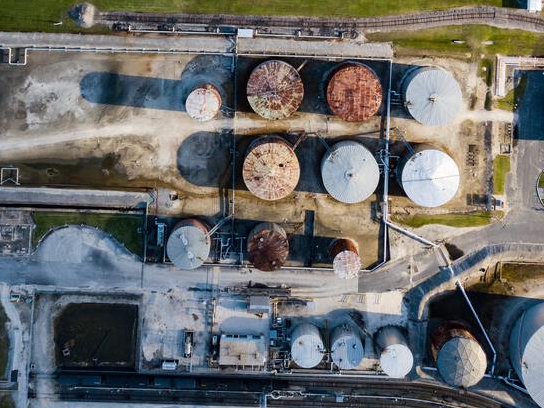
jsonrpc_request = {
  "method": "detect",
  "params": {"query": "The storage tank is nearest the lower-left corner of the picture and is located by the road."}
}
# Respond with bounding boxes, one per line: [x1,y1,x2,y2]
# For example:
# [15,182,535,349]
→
[167,216,213,270]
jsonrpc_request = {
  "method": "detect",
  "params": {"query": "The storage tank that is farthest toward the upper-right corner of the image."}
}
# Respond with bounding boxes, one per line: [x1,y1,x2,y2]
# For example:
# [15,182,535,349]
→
[399,64,463,126]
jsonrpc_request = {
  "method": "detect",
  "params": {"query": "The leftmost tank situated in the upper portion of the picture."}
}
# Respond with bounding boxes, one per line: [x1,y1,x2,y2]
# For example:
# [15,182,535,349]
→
[186,79,226,122]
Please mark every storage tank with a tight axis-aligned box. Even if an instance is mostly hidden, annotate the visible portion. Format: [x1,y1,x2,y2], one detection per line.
[373,324,414,378]
[167,216,213,270]
[324,61,383,121]
[509,301,544,407]
[186,79,226,122]
[246,57,307,119]
[329,237,361,279]
[242,133,302,198]
[396,141,459,207]
[318,136,379,202]
[290,319,326,367]
[399,64,463,126]
[328,319,364,368]
[428,318,488,389]
[247,221,290,272]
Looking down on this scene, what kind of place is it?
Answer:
industrial area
